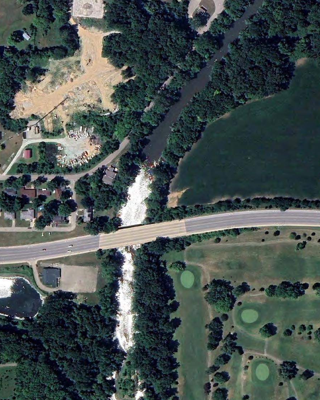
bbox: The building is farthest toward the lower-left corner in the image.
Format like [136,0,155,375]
[42,267,61,287]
